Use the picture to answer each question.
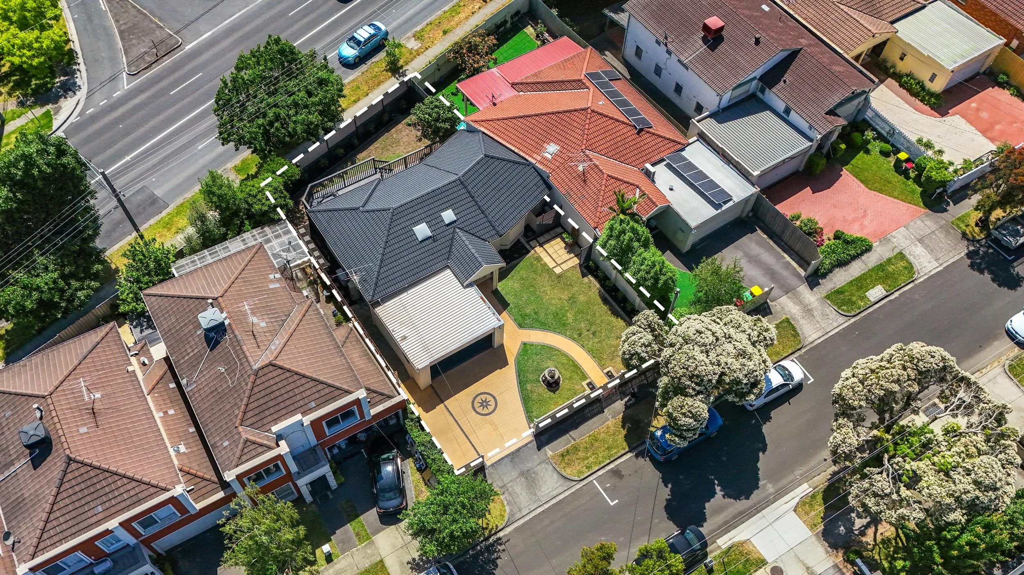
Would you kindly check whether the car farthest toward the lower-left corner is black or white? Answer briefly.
black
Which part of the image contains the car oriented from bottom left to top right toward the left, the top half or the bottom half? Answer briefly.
top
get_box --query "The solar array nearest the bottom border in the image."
[664,143,735,207]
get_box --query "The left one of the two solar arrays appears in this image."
[586,63,652,129]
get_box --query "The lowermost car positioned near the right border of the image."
[999,300,1024,337]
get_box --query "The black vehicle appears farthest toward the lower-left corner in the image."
[365,431,410,518]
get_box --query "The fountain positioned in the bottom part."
[541,361,562,381]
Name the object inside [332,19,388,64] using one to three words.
car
